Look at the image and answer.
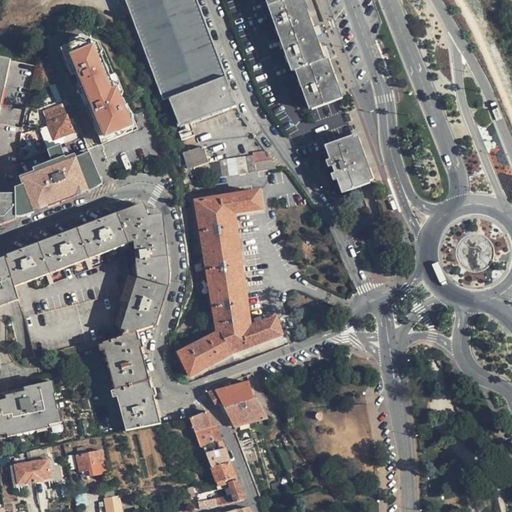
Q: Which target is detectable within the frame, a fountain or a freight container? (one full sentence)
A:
I can see a fountain in this picture.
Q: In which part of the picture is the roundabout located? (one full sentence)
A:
You can find the roundabout in the right area of the picture.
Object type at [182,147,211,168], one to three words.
shed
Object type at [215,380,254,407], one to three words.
house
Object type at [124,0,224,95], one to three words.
building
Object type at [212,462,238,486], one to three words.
house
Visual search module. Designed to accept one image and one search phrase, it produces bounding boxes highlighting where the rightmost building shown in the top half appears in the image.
[324,134,374,192]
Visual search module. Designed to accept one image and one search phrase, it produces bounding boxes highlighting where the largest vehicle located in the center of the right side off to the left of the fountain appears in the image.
[435,262,448,284]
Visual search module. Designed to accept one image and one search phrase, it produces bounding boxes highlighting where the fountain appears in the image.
[456,232,495,272]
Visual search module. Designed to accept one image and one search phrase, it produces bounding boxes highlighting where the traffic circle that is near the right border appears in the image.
[417,194,512,311]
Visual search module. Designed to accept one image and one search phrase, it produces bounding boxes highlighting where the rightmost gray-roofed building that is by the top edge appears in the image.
[264,0,342,111]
